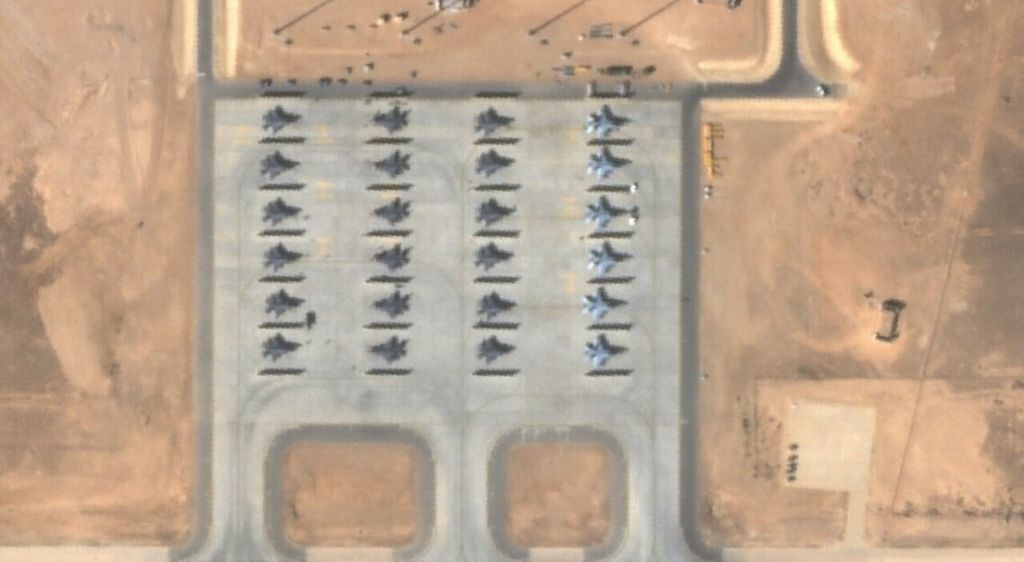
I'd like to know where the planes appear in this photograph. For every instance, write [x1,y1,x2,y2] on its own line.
[371,247,406,271]
[476,153,512,177]
[368,338,404,361]
[582,292,622,318]
[475,110,510,134]
[264,247,300,270]
[261,154,296,178]
[585,110,625,136]
[371,154,406,178]
[475,201,510,225]
[478,294,513,318]
[370,293,406,317]
[586,151,625,177]
[263,336,298,360]
[478,339,513,363]
[587,247,627,273]
[263,201,299,225]
[263,109,298,133]
[370,202,406,225]
[584,340,623,366]
[475,246,511,270]
[370,109,405,132]
[266,293,302,317]
[585,201,623,227]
